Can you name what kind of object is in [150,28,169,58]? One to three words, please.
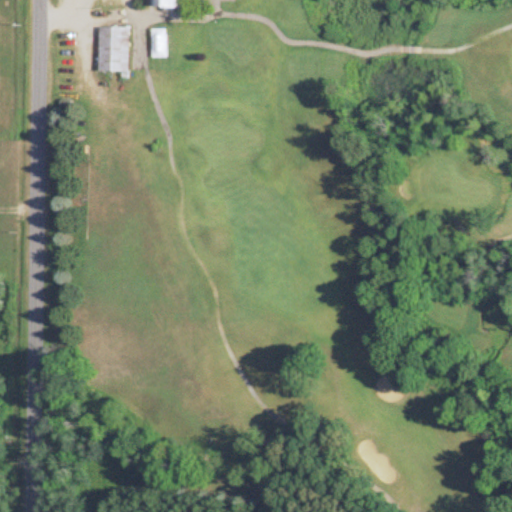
building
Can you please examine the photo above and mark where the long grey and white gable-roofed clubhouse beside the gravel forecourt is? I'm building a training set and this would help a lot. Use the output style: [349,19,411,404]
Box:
[98,25,133,78]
